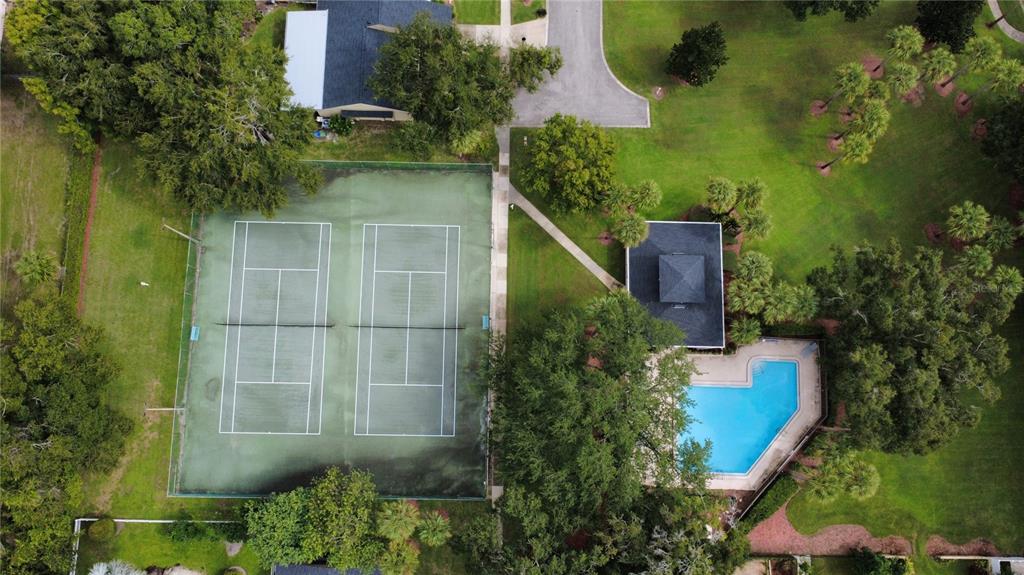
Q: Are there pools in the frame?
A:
Yes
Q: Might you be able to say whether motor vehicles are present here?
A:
No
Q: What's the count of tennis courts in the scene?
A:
2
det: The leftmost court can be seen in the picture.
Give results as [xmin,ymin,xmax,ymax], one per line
[215,222,334,435]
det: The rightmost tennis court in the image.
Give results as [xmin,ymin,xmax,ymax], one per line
[349,224,466,437]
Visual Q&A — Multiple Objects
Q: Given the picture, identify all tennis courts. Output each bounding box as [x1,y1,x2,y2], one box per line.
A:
[215,222,334,435]
[349,224,466,437]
